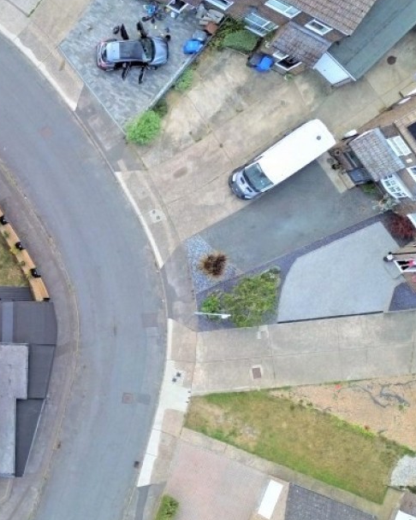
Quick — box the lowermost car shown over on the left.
[98,16,171,81]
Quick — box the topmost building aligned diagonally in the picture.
[313,0,416,90]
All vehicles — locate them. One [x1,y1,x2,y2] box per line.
[226,119,337,203]
[98,16,171,81]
